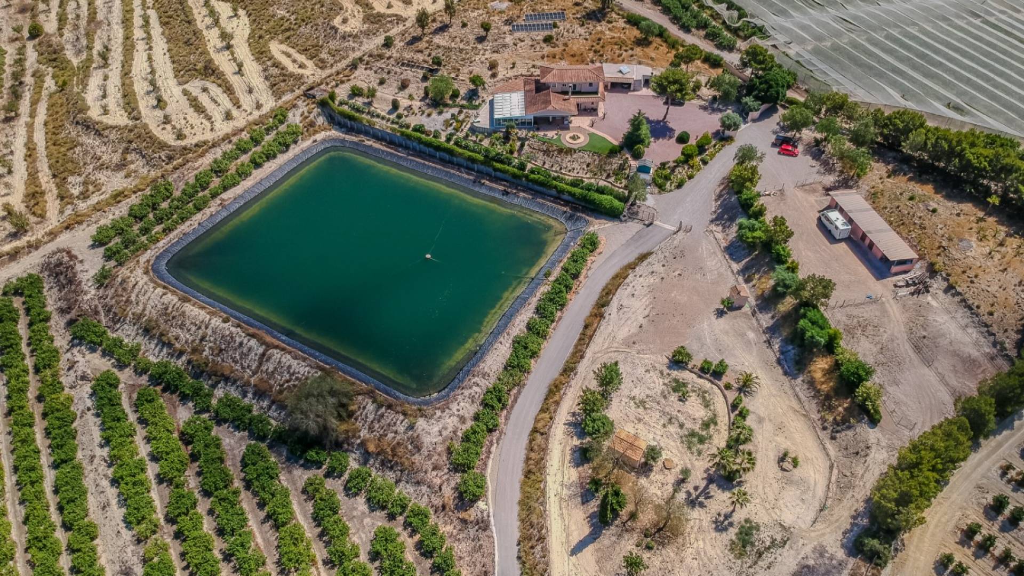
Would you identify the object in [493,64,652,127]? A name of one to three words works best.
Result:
house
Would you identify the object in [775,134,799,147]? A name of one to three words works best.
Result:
vehicle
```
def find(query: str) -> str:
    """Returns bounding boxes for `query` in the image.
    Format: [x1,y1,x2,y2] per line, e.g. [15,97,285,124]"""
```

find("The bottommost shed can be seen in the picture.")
[610,434,648,470]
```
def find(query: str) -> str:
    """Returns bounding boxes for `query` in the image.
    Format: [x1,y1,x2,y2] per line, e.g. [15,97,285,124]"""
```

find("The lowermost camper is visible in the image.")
[820,205,853,238]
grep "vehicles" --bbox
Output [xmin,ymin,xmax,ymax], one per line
[775,134,799,147]
[620,83,631,89]
[820,205,853,238]
[665,98,685,107]
[778,145,799,156]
